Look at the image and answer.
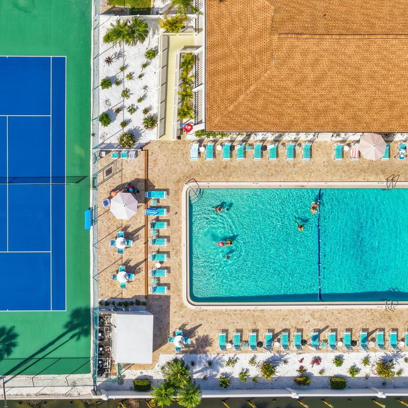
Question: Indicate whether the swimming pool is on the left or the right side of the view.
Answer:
right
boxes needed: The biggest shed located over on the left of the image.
[102,309,153,363]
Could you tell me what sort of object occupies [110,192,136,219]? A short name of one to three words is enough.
umbrella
